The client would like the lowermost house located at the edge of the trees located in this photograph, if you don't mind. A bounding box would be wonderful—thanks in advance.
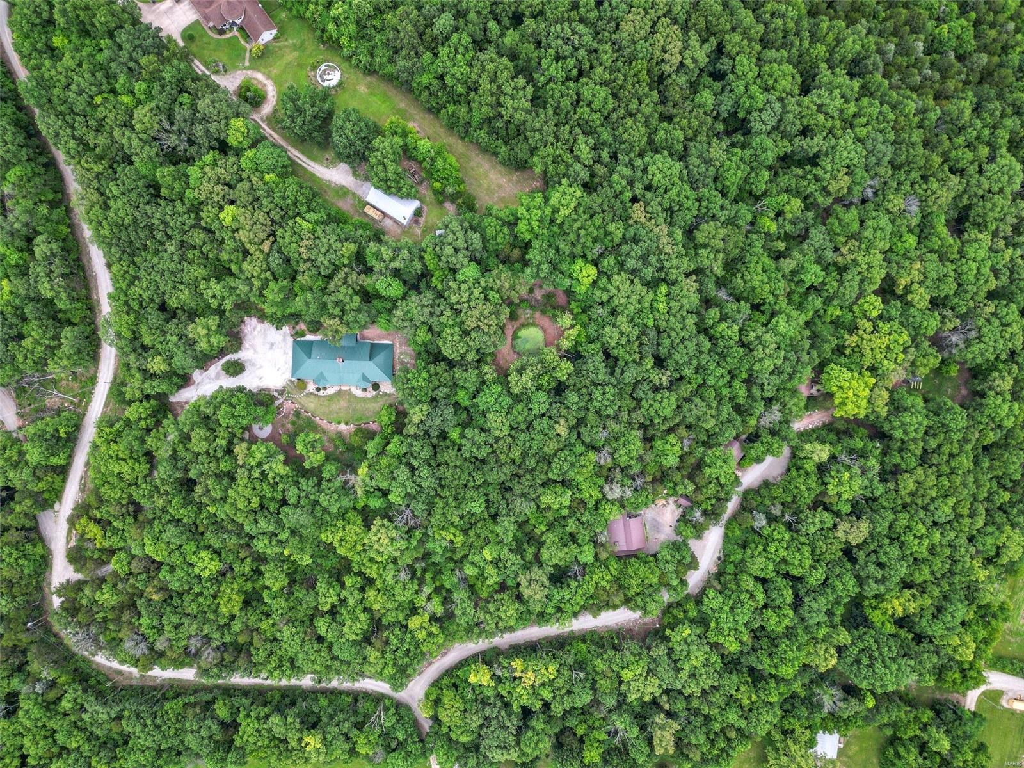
[812,730,845,759]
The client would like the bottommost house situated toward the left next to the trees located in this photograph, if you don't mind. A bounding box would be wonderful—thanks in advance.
[291,332,394,389]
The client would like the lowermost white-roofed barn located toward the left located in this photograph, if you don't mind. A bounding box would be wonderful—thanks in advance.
[366,184,421,226]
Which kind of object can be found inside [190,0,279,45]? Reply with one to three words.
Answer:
house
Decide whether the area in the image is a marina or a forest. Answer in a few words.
forest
